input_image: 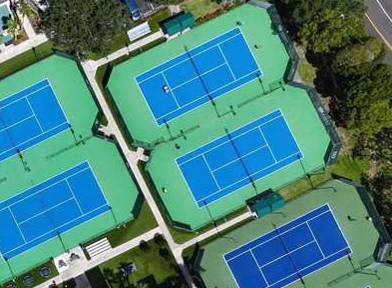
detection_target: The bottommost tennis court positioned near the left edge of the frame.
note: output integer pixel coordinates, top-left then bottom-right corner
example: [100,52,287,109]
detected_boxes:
[0,133,144,281]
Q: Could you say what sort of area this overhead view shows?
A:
sports ground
